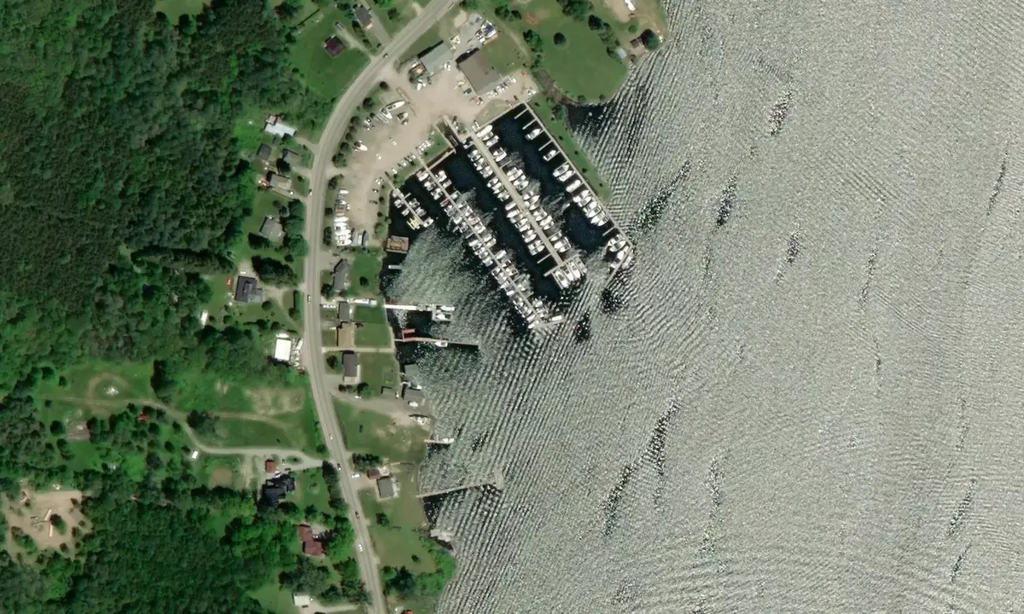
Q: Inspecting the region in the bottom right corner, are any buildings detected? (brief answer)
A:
No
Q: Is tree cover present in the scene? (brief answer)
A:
Yes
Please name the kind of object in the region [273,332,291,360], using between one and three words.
building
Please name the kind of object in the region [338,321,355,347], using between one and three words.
house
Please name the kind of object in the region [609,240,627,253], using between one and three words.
boat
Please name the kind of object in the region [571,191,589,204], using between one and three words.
boat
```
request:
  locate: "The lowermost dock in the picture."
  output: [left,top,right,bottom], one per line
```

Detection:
[416,470,504,498]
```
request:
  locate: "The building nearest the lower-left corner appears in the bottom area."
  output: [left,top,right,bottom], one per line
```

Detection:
[67,421,90,437]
